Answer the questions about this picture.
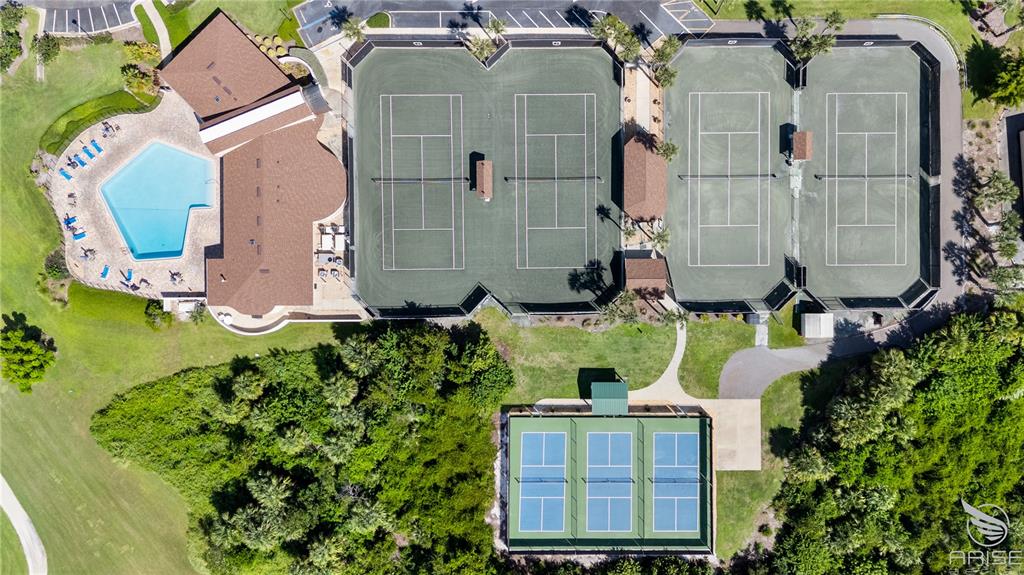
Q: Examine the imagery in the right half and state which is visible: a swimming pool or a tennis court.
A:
tennis court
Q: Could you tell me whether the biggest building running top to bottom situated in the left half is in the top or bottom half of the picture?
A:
top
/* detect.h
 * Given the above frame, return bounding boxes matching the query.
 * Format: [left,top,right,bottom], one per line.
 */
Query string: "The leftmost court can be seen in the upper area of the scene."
[354,48,490,317]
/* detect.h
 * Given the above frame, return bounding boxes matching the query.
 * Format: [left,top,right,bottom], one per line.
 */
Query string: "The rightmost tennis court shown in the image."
[800,47,927,309]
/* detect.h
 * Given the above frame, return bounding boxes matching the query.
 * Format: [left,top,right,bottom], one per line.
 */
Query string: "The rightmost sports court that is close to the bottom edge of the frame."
[644,417,709,547]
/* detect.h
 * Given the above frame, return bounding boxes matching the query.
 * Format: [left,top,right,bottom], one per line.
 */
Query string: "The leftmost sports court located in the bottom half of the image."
[509,417,576,547]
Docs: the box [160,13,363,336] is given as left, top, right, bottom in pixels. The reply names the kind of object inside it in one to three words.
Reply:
building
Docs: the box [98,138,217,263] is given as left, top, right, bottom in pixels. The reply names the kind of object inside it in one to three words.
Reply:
swimming pool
